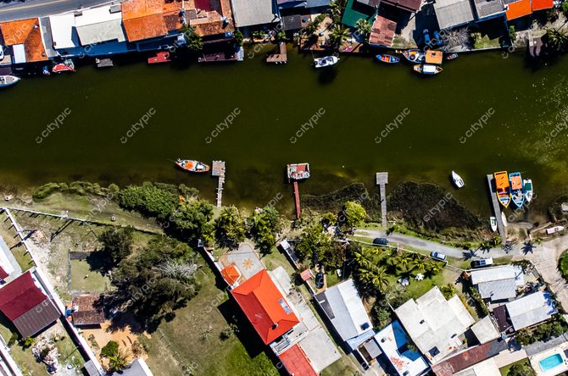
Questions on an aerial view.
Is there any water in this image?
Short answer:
Yes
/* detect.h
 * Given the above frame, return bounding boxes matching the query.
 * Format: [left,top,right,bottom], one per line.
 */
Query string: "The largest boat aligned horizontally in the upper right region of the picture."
[402,49,444,64]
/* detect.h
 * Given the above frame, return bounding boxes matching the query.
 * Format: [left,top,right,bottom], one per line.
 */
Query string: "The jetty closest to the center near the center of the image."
[288,163,309,217]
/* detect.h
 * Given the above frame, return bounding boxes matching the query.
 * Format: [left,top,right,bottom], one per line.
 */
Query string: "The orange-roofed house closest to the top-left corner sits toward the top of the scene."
[0,18,54,71]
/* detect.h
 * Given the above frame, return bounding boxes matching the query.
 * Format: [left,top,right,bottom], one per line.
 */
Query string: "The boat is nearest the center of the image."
[176,160,212,173]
